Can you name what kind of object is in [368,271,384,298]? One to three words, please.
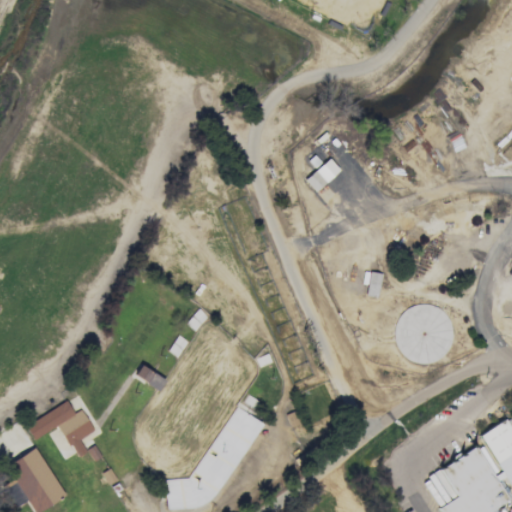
shed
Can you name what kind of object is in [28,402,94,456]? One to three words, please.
house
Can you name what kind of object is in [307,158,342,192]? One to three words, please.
building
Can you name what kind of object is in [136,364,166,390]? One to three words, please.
barn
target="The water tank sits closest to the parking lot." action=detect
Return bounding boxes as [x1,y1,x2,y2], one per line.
[396,305,454,364]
